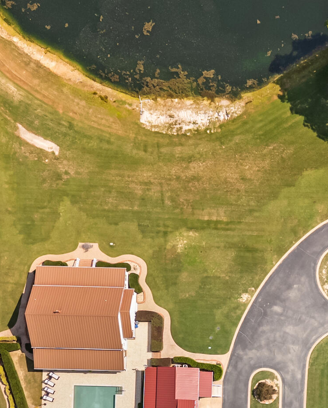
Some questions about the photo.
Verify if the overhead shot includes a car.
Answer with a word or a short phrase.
No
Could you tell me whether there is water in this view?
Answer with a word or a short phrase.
Yes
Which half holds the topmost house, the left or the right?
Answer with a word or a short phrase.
left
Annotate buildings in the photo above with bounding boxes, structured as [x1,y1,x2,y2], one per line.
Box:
[143,367,214,408]
[25,266,139,371]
